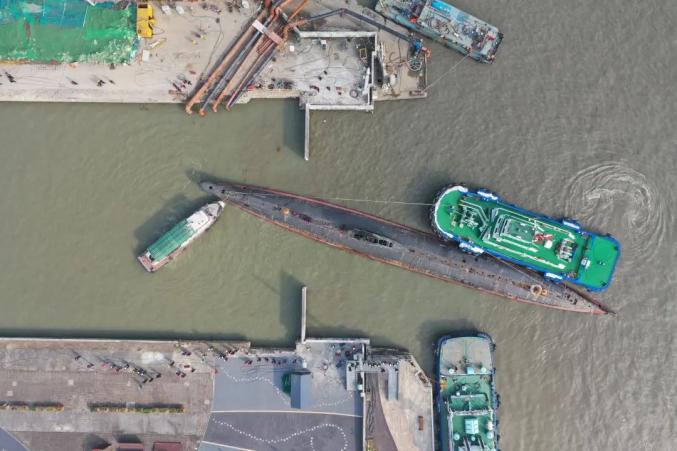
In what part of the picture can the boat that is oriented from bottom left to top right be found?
left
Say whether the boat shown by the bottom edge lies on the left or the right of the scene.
right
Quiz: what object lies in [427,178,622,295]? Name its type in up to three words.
boat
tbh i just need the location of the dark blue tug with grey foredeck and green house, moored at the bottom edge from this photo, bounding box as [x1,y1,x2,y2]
[433,331,498,451]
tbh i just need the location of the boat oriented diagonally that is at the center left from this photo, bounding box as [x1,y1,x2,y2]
[137,202,227,273]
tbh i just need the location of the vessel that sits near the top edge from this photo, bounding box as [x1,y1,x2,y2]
[376,0,506,64]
